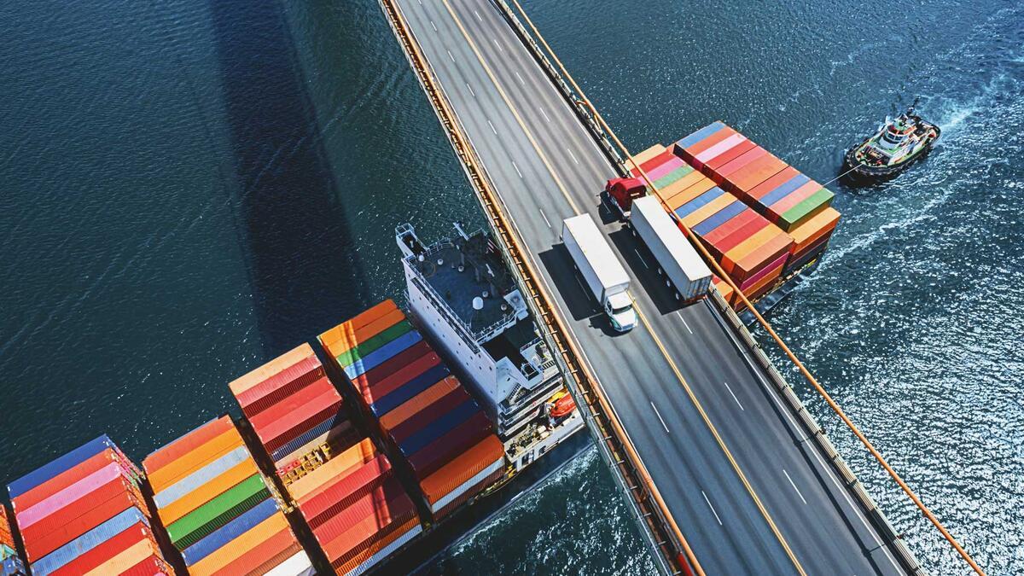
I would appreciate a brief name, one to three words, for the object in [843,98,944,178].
boat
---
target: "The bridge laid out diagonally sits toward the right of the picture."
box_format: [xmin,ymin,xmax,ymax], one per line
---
[374,0,983,576]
